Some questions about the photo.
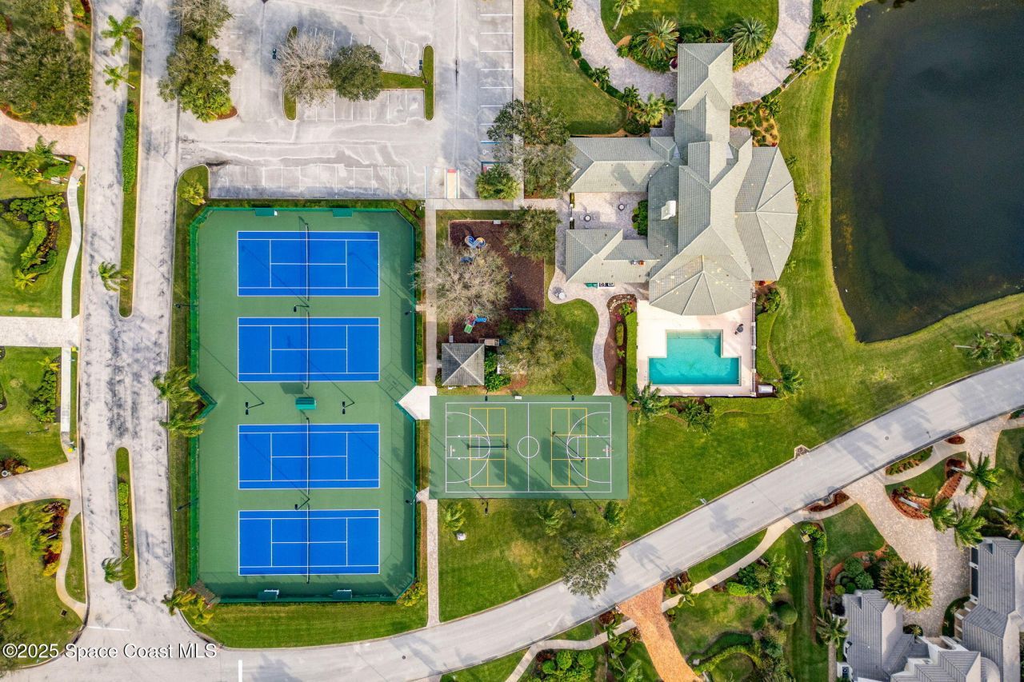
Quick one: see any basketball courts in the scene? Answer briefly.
Yes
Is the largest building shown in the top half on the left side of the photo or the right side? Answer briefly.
right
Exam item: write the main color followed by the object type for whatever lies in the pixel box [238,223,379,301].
blue tennis court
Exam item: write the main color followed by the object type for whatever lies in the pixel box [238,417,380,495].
blue tennis court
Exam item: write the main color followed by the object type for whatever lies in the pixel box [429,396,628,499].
green basketball court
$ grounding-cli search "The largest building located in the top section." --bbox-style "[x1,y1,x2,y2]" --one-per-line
[562,43,798,315]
